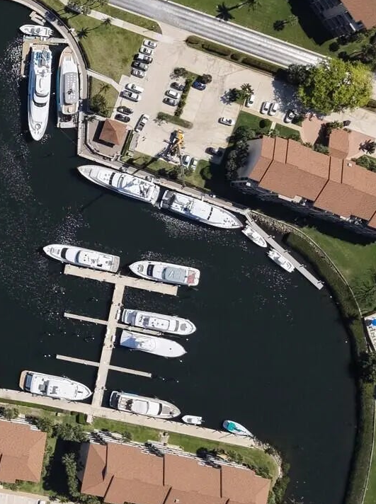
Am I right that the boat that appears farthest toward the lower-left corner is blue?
No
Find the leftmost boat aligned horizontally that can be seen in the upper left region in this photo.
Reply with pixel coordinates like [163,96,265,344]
[20,25,55,38]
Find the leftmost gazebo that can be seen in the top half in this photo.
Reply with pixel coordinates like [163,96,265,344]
[97,118,128,146]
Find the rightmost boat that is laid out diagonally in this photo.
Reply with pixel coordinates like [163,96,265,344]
[262,248,292,271]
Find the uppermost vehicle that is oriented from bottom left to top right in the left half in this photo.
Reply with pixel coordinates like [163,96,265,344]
[134,114,149,132]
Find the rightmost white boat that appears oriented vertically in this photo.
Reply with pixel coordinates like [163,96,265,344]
[55,46,80,129]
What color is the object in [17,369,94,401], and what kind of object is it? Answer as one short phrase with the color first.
white boat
